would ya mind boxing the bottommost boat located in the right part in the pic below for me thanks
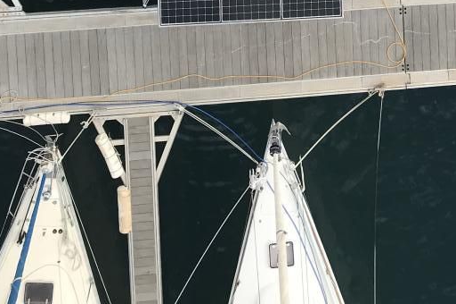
[224,116,348,304]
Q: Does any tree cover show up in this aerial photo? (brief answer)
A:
No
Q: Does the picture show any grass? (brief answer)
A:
No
